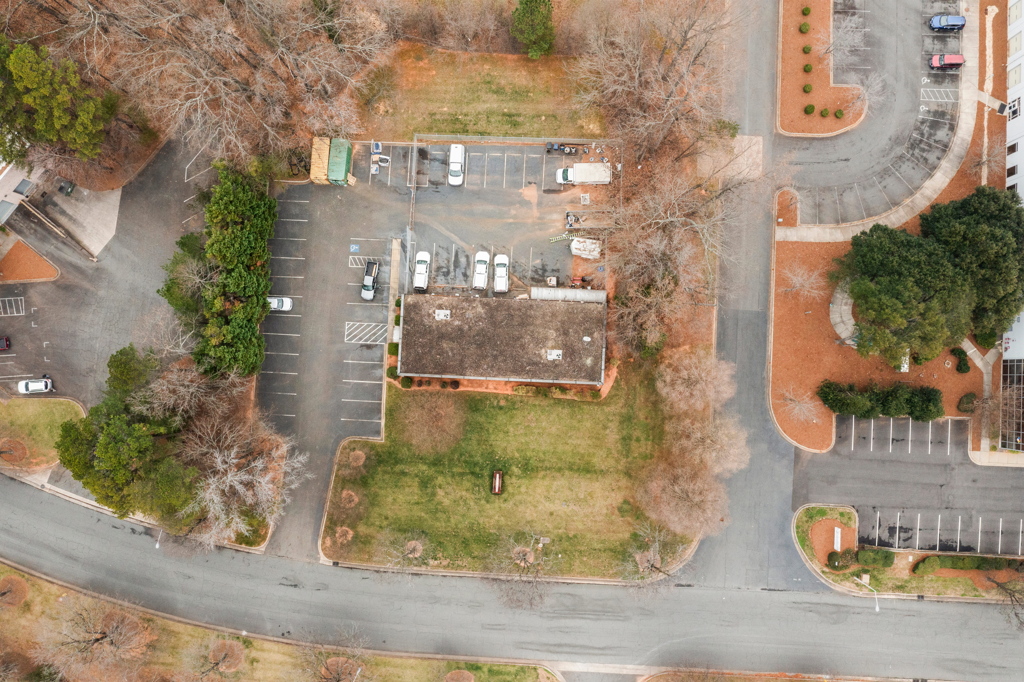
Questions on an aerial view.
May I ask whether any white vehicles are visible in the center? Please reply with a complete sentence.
Yes, you'll find a white vehicle in the center.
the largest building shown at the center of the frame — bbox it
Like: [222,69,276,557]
[397,290,606,386]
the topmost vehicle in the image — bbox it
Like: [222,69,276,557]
[928,13,965,32]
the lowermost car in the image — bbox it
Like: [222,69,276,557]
[18,378,54,395]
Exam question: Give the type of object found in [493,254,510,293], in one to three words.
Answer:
vehicle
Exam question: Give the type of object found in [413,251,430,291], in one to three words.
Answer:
vehicle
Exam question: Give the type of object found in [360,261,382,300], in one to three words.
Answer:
truck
